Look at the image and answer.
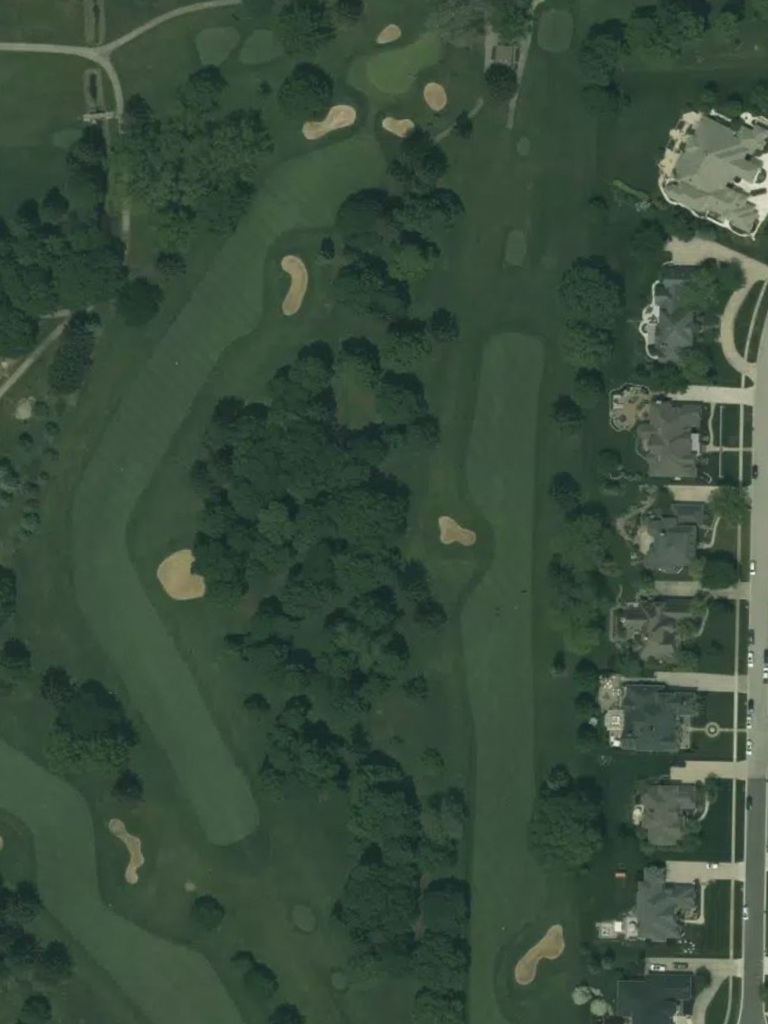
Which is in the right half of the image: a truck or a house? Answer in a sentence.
Visible in the right half of the image is a house.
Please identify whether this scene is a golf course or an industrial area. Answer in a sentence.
It's a golf course.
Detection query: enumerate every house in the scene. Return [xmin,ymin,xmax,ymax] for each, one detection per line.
[648,503,706,572]
[620,595,697,662]
[636,400,702,477]
[637,867,698,942]
[641,784,697,847]
[664,117,768,230]
[653,265,701,362]
[622,685,699,751]
[618,975,693,1024]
